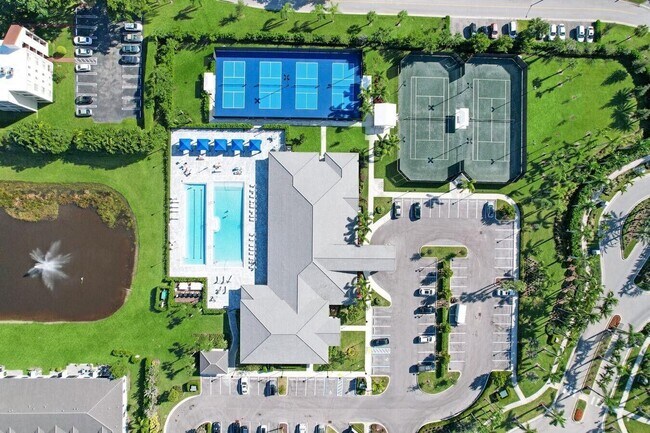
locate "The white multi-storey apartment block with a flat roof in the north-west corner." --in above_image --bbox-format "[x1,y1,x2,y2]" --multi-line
[0,23,53,111]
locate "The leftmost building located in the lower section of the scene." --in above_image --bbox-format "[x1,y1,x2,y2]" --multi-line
[0,364,129,433]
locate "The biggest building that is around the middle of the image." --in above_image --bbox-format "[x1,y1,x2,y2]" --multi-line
[241,152,397,364]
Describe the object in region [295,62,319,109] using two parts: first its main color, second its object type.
blue sports court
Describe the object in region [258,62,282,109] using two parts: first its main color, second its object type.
blue sports court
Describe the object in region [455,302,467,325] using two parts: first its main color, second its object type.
white vehicle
